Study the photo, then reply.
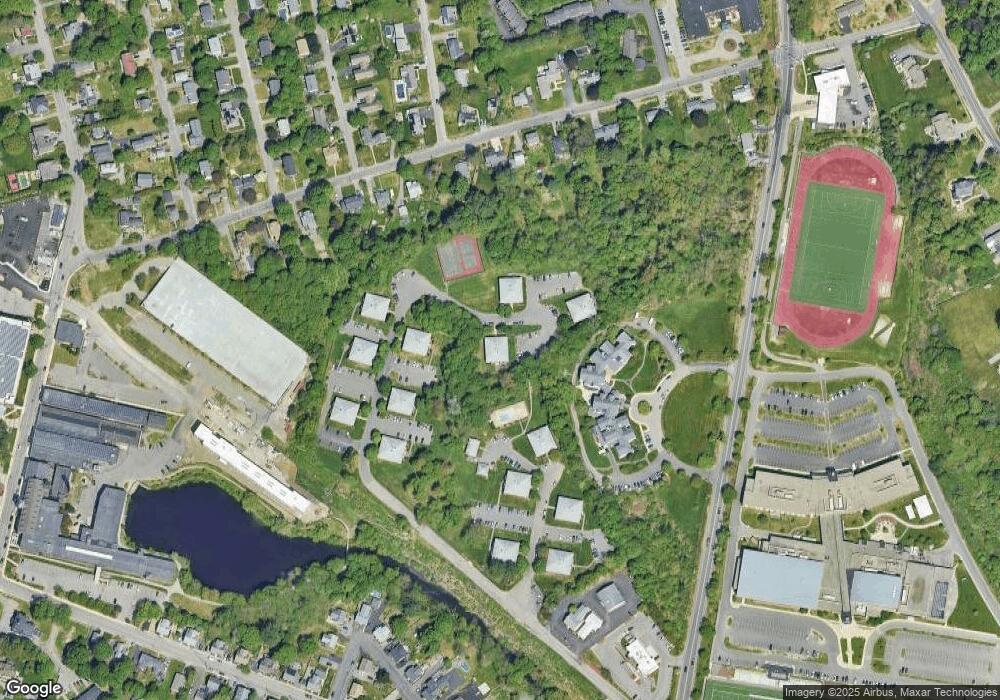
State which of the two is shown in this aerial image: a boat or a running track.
running track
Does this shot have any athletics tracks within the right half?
Yes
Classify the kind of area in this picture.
residential area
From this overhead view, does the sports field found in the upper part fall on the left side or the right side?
right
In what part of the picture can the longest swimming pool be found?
center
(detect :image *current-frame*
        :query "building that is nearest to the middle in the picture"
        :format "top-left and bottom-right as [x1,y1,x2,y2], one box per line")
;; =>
[484,337,509,363]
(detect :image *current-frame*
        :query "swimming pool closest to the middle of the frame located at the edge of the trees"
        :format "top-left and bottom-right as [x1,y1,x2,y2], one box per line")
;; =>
[491,401,529,428]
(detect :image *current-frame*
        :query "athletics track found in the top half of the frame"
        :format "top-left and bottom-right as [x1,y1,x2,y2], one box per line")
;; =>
[773,145,904,349]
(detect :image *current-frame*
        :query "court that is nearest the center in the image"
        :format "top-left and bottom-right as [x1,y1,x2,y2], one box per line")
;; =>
[438,236,484,280]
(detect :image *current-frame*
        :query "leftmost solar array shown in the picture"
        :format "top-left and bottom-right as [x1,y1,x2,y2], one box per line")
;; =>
[0,321,24,397]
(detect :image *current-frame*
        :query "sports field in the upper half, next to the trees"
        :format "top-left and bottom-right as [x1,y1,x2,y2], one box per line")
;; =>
[790,183,885,313]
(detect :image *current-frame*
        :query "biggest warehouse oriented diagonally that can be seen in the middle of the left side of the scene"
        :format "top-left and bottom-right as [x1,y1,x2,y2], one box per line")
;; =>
[141,258,309,404]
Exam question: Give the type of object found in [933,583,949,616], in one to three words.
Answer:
solar array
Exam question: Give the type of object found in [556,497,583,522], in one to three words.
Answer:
building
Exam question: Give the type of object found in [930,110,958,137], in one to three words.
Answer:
house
